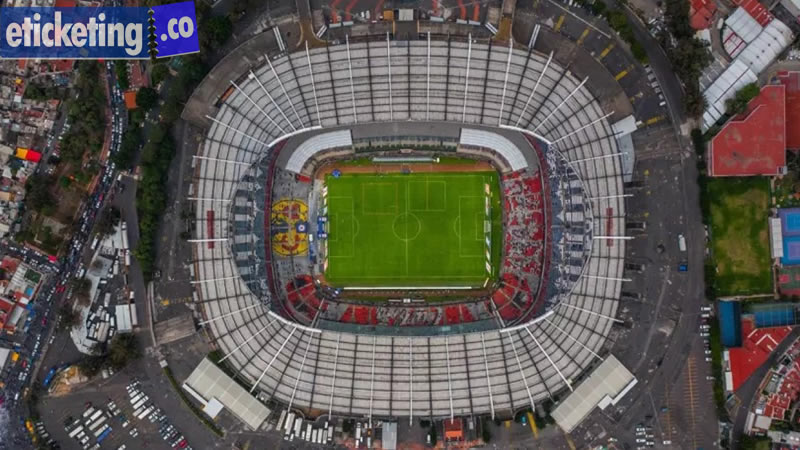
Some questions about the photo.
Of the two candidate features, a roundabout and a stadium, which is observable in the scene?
stadium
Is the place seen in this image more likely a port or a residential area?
residential area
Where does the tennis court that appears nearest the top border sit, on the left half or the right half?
right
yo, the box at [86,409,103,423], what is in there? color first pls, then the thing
white vehicle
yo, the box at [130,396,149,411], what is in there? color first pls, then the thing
white vehicle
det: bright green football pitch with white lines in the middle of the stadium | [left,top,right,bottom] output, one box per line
[326,173,501,288]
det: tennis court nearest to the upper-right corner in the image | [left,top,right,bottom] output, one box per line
[778,208,800,236]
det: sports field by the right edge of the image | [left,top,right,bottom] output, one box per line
[706,177,773,298]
